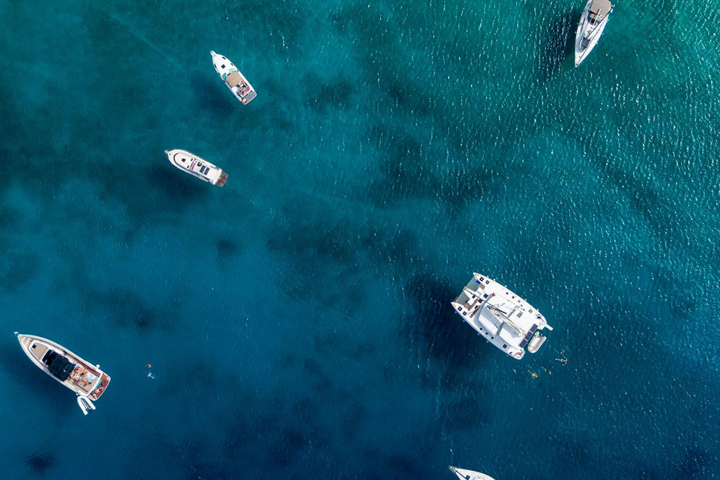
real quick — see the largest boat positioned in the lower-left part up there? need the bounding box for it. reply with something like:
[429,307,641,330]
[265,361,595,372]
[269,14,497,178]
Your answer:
[13,333,110,397]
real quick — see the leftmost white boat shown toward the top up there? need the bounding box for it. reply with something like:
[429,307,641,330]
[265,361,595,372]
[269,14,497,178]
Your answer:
[163,148,227,186]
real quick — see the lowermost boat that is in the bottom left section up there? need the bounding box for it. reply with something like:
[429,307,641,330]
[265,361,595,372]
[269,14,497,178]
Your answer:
[77,394,95,415]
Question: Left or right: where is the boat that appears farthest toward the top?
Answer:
right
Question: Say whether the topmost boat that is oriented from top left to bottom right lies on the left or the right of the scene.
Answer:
left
